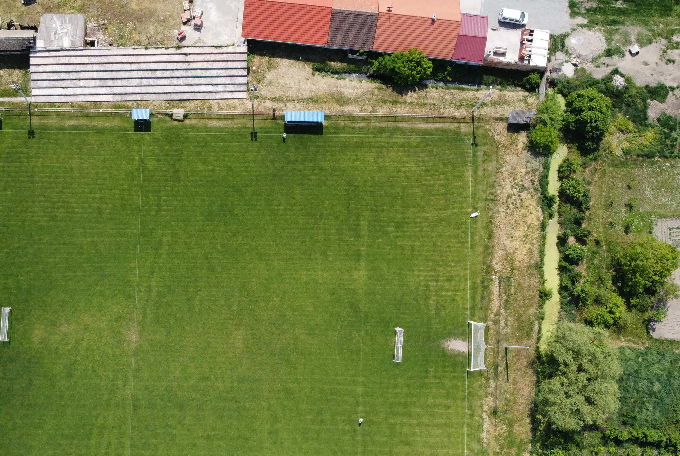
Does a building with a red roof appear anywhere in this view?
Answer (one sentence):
Yes, this view includes a building with a red roof.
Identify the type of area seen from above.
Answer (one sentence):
This looks like a sports ground.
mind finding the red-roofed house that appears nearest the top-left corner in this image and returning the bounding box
[242,0,332,52]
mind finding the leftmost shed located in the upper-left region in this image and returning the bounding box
[0,30,37,54]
